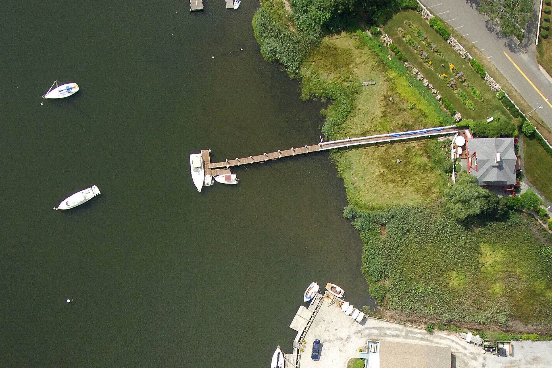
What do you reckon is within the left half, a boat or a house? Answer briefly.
boat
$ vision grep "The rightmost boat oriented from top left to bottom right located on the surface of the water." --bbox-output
[328,283,345,298]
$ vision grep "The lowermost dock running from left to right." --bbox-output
[202,124,460,183]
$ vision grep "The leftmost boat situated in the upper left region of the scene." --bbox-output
[44,82,80,99]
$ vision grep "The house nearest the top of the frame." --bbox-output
[453,130,520,199]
